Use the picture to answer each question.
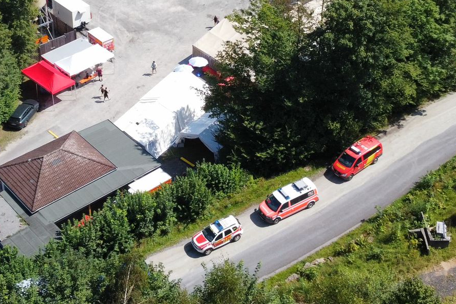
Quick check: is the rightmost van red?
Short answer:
Yes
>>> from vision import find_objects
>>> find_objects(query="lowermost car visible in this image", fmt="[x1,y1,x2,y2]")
[188,210,246,256]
